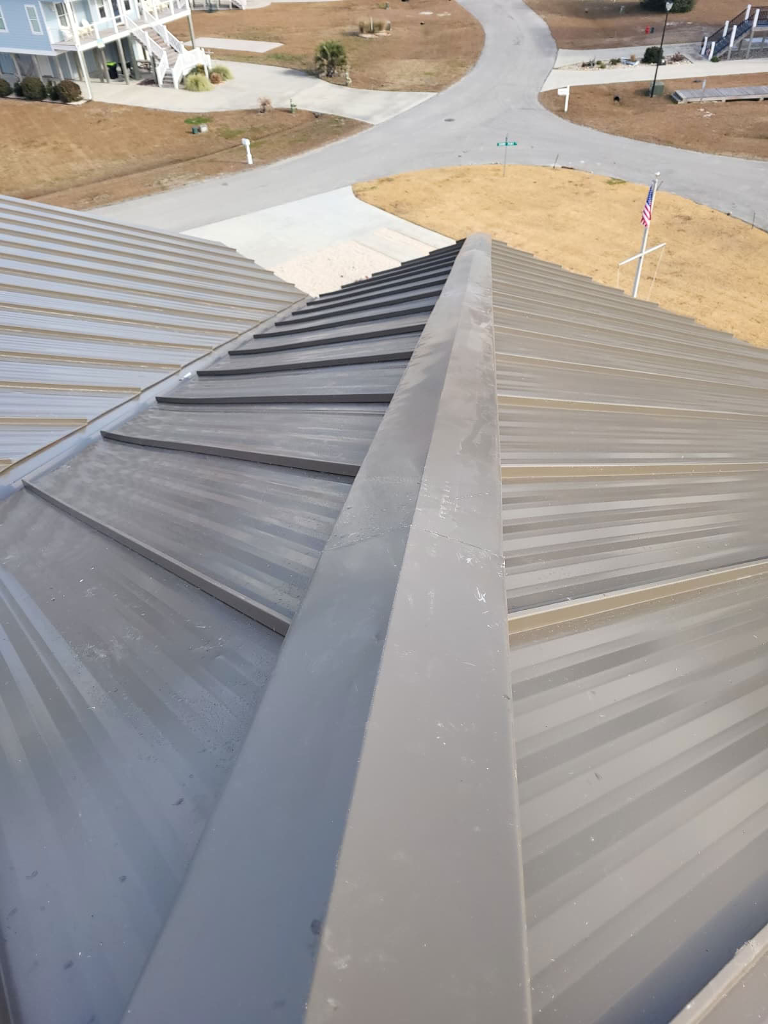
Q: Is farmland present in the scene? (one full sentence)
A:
No, farmland can't be seen anywhere here.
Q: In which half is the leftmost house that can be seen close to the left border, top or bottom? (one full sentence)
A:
The leftmost house that can be seen close to the left border is in the top half of the image.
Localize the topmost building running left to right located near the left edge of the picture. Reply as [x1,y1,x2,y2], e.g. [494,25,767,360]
[0,0,215,101]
